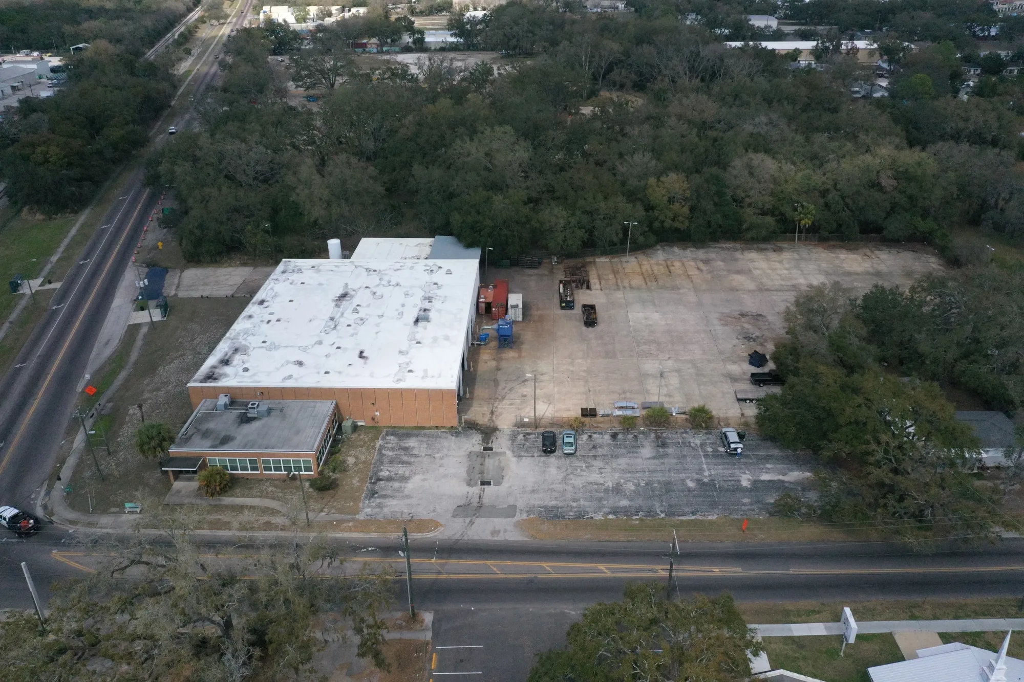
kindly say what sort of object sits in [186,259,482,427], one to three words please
warehouse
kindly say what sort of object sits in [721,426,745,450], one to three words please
car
